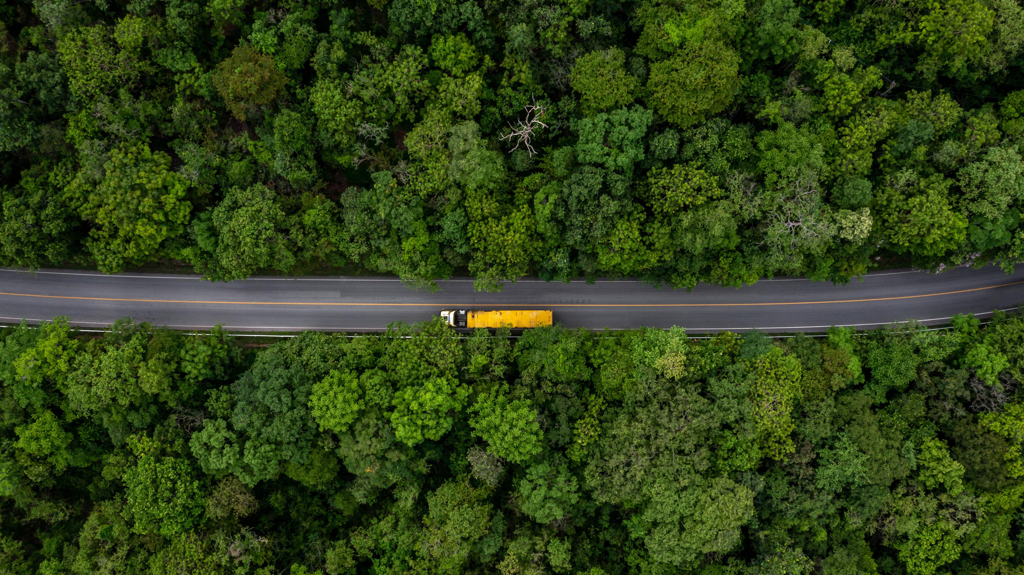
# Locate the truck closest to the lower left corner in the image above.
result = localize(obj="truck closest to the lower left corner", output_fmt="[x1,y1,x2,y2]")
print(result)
[440,307,472,329]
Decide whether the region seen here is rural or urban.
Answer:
rural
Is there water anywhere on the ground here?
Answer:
No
